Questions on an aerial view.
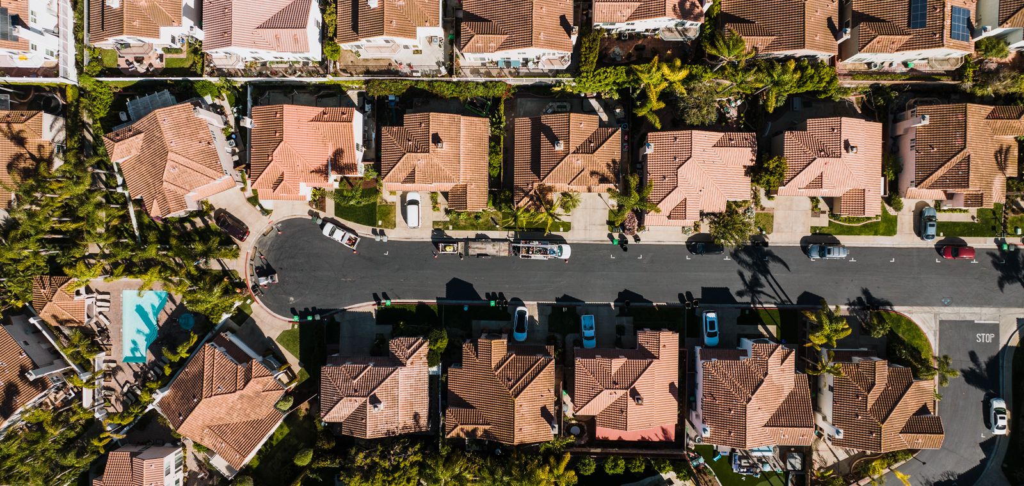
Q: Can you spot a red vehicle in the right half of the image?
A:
Yes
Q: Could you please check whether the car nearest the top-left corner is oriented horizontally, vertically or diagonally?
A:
diagonally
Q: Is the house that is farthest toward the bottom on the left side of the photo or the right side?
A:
left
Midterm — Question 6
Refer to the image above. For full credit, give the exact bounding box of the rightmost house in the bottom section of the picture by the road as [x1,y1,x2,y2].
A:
[816,350,950,451]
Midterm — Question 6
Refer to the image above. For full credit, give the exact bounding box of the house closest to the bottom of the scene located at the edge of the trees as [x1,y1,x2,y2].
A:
[93,443,183,486]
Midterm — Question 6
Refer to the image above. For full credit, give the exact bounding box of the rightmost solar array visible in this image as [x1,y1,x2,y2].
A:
[953,6,971,41]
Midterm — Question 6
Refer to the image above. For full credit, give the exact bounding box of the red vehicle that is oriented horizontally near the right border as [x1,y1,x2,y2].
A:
[941,245,978,261]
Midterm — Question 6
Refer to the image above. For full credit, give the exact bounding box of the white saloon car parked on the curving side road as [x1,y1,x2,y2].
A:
[989,397,1010,435]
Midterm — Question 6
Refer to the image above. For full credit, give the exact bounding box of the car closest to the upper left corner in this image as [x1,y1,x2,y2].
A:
[214,212,250,243]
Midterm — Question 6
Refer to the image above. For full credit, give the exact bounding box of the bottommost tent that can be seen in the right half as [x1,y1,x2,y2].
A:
[781,448,803,471]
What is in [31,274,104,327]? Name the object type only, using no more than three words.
building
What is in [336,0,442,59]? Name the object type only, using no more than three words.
house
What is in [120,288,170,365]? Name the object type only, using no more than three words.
swimming pool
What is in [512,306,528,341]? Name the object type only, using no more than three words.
car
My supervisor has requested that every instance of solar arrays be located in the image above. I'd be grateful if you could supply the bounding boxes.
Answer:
[953,6,971,41]
[912,0,927,28]
[0,8,7,40]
